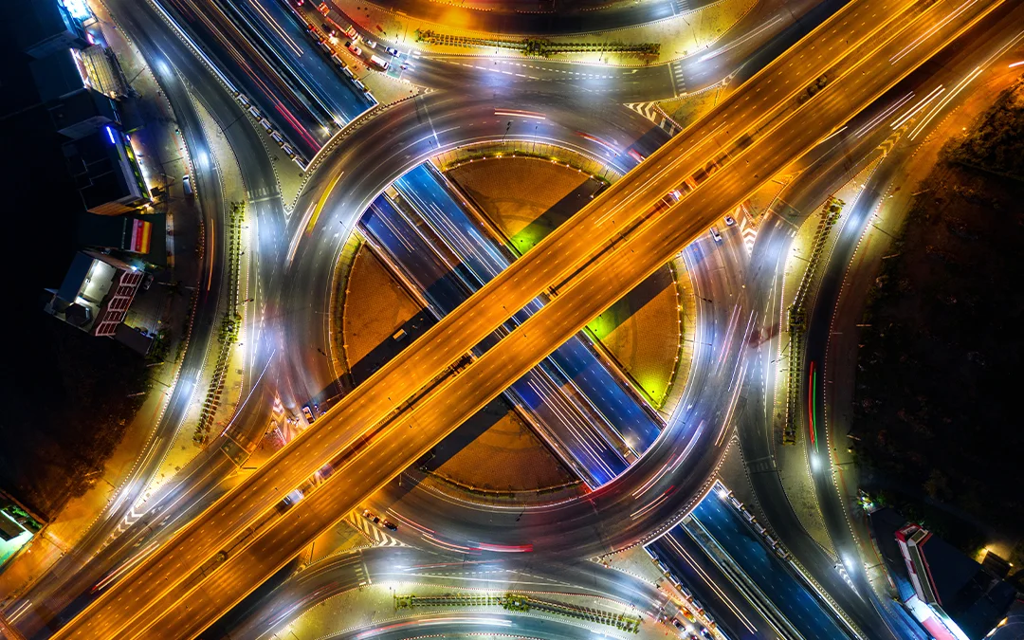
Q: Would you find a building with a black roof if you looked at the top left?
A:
Yes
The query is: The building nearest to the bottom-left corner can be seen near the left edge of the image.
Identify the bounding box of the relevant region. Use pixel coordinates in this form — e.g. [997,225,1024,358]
[0,502,35,547]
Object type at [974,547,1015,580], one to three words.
shed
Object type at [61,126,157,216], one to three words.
building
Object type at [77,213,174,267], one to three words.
building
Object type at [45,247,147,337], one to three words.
house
